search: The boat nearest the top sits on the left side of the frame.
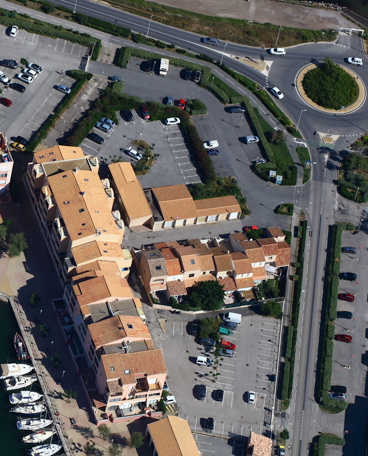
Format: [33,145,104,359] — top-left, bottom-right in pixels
[13,332,27,361]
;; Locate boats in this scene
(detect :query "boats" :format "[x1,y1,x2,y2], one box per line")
[0,361,34,379]
[20,407,57,445]
[1,375,37,391]
[13,332,27,361]
[27,426,62,456]
[9,383,46,418]
[15,393,53,431]
[7,392,43,405]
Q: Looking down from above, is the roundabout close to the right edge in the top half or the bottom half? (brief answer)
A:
top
